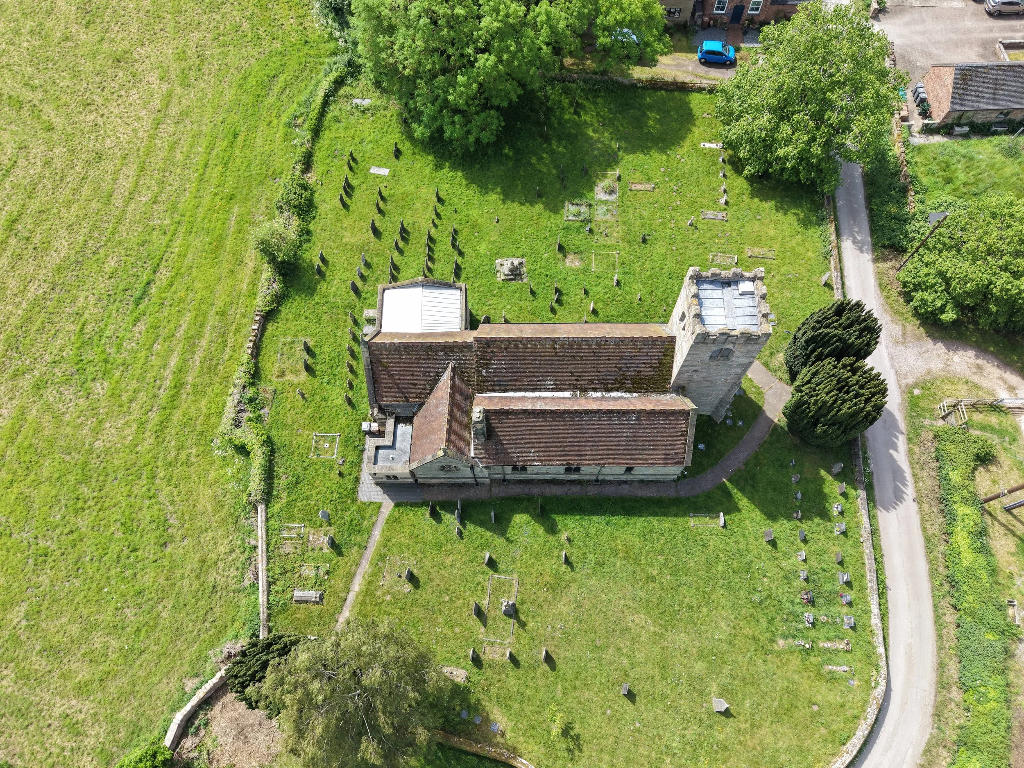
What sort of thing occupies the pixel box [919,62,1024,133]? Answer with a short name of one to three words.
shed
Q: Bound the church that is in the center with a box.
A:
[359,267,774,491]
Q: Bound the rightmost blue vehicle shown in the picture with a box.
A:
[699,40,736,64]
